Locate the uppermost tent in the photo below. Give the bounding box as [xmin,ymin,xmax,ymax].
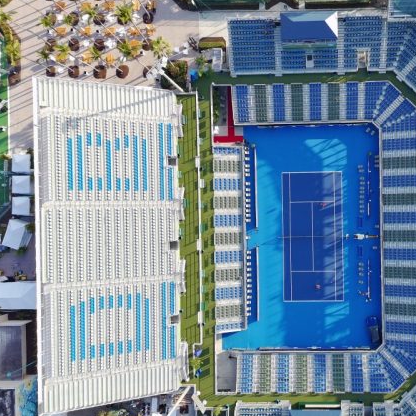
[12,154,37,173]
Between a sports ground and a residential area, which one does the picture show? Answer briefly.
sports ground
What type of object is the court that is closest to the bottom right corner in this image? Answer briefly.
tennis court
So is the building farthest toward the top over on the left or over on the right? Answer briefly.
right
